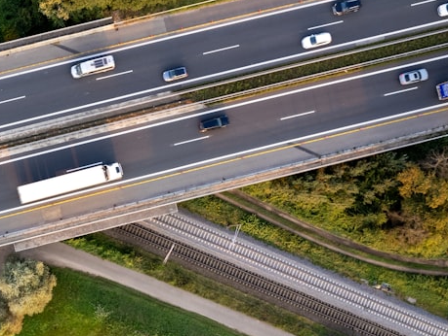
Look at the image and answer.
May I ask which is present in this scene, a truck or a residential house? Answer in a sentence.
The one in the frame is a truck.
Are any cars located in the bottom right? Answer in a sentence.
No, no car is visible in the bottom right.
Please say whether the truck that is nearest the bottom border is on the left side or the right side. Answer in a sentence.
It is on the left.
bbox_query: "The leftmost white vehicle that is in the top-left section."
[72,54,116,77]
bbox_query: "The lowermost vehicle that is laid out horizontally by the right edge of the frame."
[396,68,426,84]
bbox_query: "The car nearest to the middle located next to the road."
[198,113,228,130]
